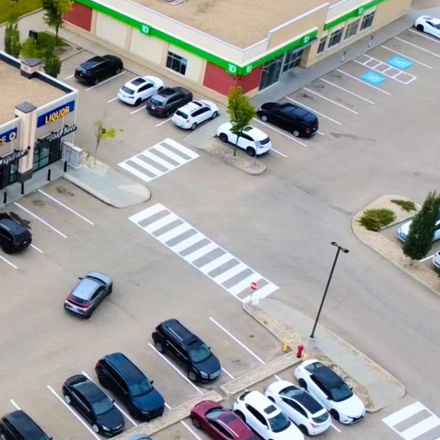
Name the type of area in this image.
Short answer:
parking lot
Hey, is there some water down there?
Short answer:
No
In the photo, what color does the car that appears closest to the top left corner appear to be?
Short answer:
black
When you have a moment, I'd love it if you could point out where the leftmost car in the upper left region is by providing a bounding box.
[76,55,122,84]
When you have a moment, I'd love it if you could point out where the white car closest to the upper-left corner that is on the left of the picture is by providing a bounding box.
[118,76,162,104]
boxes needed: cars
[427,244,440,271]
[231,389,300,440]
[391,204,435,241]
[0,412,49,440]
[62,376,127,437]
[67,273,115,318]
[0,212,30,252]
[299,364,369,425]
[155,324,221,381]
[76,55,122,84]
[99,359,163,420]
[191,403,260,440]
[259,102,317,137]
[118,76,162,104]
[266,379,337,438]
[143,87,189,117]
[416,16,440,37]
[174,98,219,128]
